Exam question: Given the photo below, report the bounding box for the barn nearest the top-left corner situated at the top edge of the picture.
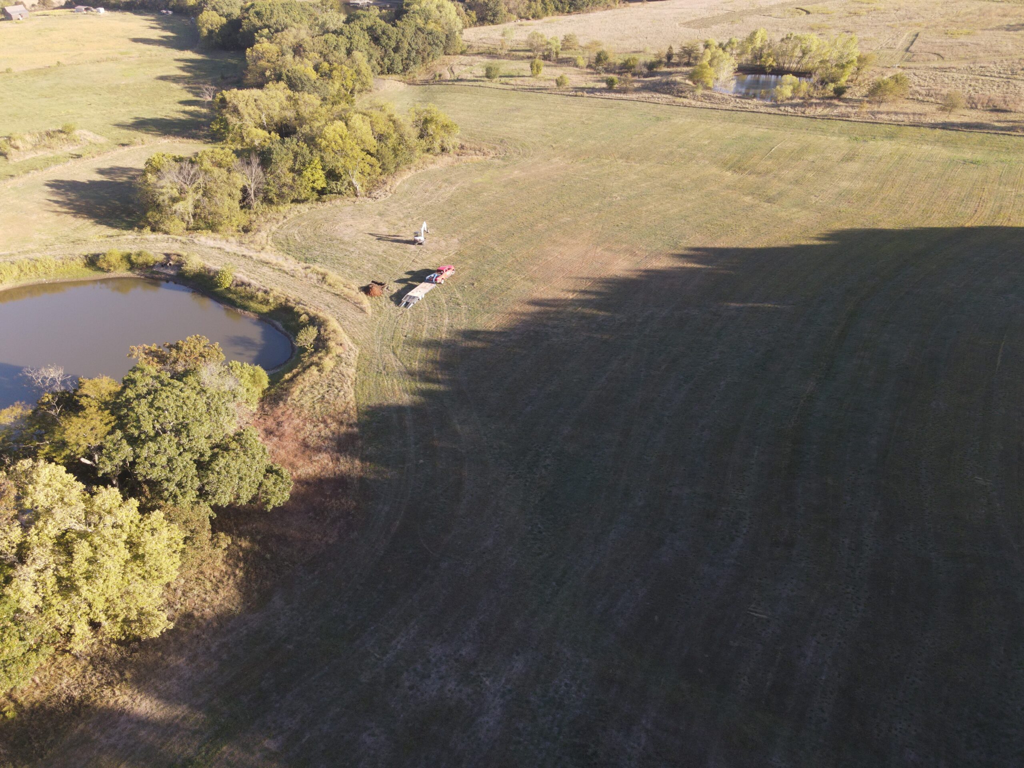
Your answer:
[8,6,36,20]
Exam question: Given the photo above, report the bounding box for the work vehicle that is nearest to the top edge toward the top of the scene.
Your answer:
[412,220,432,245]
